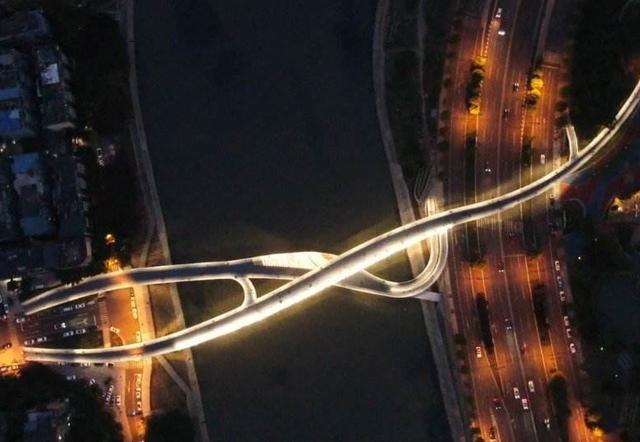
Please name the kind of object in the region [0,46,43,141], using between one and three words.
building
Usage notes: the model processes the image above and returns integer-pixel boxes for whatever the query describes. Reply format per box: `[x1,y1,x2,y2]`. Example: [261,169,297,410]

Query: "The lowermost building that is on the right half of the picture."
[593,369,640,442]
